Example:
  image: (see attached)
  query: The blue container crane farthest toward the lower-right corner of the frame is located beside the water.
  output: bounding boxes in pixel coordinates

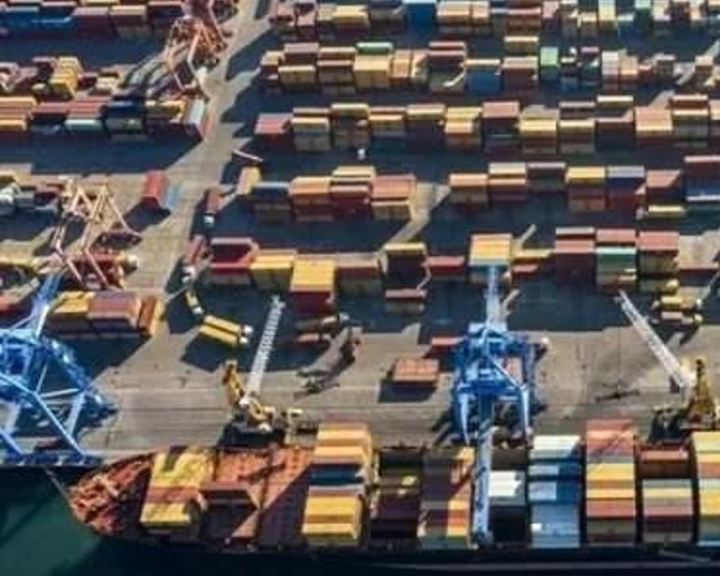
[448,251,546,546]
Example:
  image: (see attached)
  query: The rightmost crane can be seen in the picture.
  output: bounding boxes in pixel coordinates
[595,289,720,444]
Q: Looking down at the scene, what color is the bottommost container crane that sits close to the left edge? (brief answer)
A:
blue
